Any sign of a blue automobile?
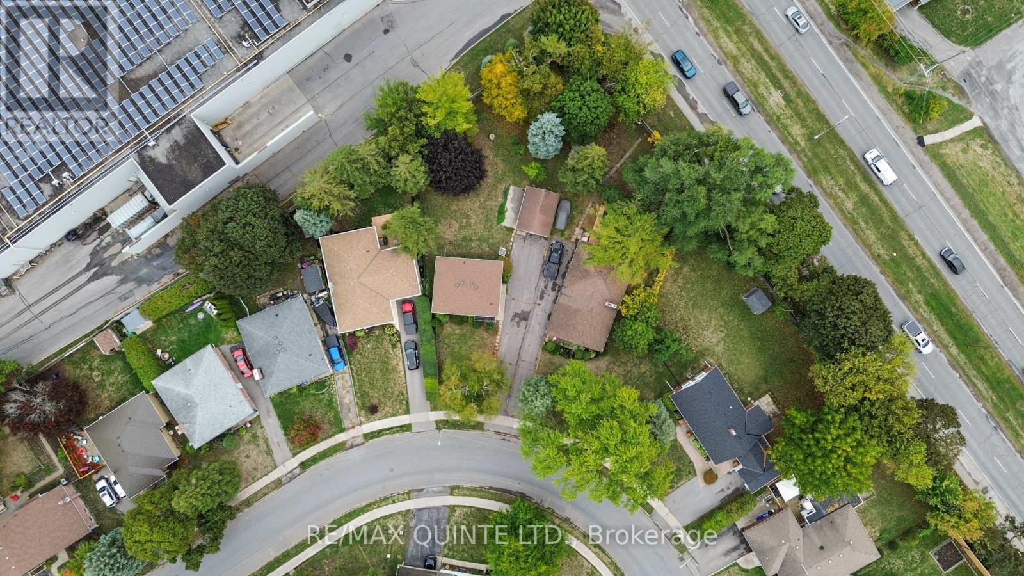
Yes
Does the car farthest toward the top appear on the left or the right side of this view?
right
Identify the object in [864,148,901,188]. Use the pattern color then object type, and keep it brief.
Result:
white truck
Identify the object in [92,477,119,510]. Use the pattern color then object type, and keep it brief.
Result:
white car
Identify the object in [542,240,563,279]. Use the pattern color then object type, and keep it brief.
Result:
gray truck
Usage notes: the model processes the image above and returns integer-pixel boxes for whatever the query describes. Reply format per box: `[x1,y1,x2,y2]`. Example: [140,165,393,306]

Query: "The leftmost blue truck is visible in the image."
[322,333,347,373]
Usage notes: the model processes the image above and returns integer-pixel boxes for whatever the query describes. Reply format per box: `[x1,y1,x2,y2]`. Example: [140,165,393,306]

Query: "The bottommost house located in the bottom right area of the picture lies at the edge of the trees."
[740,502,882,576]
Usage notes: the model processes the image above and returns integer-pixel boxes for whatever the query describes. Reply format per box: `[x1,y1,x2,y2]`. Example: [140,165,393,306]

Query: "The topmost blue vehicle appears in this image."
[670,47,697,80]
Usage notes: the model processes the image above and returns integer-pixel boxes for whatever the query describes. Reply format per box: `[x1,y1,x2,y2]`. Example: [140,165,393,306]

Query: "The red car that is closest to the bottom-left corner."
[230,347,253,380]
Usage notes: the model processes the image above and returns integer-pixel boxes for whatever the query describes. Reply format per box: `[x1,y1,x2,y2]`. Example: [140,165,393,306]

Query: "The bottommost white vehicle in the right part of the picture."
[900,318,935,356]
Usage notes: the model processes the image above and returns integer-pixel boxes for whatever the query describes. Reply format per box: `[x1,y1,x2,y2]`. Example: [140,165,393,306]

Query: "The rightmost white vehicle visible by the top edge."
[784,4,812,36]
